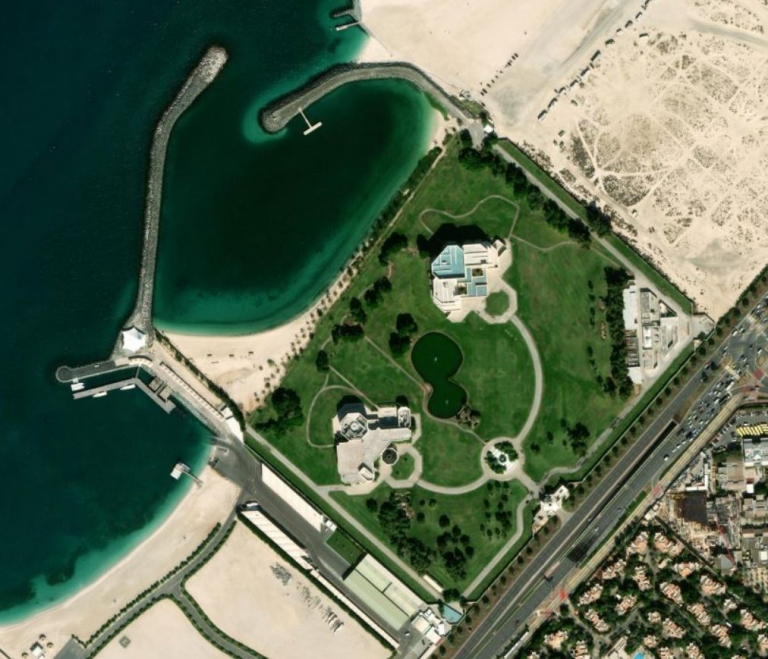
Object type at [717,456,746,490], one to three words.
house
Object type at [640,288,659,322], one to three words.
building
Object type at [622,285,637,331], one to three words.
shed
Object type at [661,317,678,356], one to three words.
building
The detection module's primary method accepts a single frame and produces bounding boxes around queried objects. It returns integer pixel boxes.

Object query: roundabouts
[482,437,524,479]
